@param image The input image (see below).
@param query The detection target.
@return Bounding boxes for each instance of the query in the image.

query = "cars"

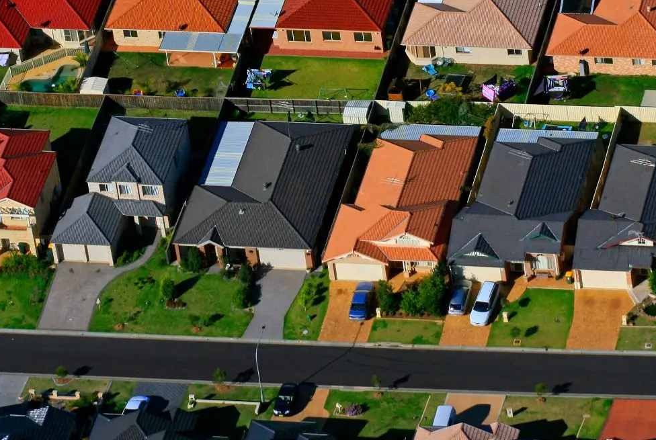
[470,283,500,322]
[349,287,375,319]
[117,392,152,414]
[446,285,472,315]
[271,383,301,420]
